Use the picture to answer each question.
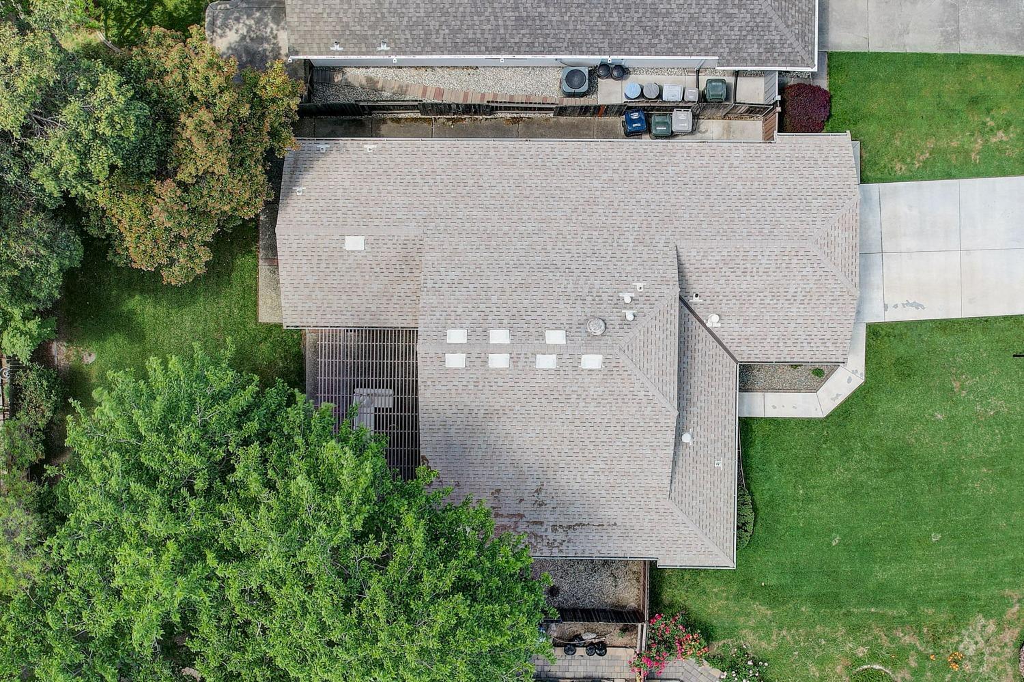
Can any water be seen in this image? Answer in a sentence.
No, the scene doesn't show any water.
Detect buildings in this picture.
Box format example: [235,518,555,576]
[282,0,820,73]
[274,128,860,571]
